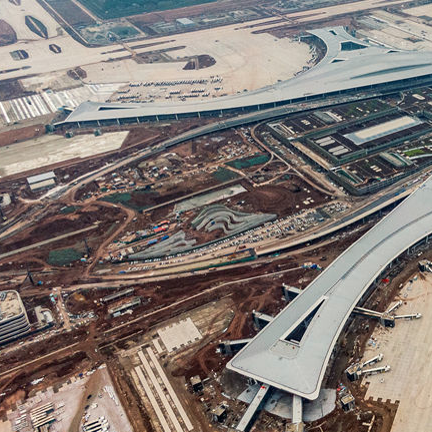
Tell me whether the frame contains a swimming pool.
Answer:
No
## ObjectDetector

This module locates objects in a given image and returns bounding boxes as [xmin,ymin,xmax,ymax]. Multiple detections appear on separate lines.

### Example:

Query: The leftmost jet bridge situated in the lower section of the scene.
[217,337,251,356]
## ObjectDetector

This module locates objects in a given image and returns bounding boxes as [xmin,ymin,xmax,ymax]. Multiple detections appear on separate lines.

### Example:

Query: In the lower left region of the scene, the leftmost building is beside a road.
[0,289,31,346]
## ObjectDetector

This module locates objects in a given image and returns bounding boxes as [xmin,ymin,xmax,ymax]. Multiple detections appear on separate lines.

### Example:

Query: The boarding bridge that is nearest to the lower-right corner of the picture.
[336,353,392,378]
